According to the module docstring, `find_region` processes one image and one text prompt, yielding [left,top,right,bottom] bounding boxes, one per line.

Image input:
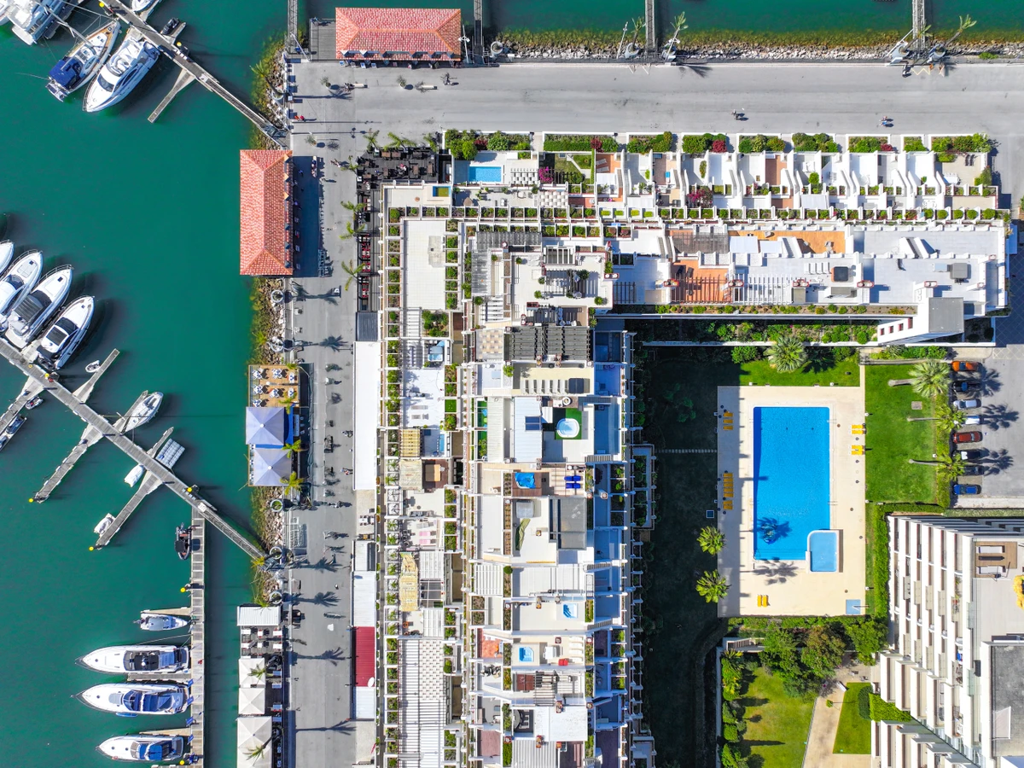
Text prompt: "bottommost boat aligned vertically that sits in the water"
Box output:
[174,520,191,561]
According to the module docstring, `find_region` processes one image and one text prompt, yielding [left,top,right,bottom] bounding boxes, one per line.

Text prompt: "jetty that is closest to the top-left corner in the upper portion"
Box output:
[45,0,91,42]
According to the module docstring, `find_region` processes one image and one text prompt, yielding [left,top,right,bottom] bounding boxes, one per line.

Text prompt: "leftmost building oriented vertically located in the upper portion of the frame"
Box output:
[239,149,293,280]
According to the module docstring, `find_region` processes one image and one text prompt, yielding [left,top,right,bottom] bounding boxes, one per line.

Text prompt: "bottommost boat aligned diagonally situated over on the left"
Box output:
[93,514,113,535]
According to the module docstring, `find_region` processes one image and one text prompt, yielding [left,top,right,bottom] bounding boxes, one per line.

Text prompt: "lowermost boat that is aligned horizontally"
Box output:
[96,731,192,761]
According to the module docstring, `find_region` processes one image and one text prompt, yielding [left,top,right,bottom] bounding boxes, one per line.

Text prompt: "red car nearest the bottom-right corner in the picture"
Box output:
[951,430,981,444]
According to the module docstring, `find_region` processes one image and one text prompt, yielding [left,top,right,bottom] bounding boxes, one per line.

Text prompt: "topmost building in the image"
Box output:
[335,7,462,63]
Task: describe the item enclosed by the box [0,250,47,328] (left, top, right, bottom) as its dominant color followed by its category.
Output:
white boat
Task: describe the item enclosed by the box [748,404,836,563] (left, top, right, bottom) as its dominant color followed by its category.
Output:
blue swimming pool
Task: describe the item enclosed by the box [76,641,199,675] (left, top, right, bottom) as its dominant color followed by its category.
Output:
white boat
